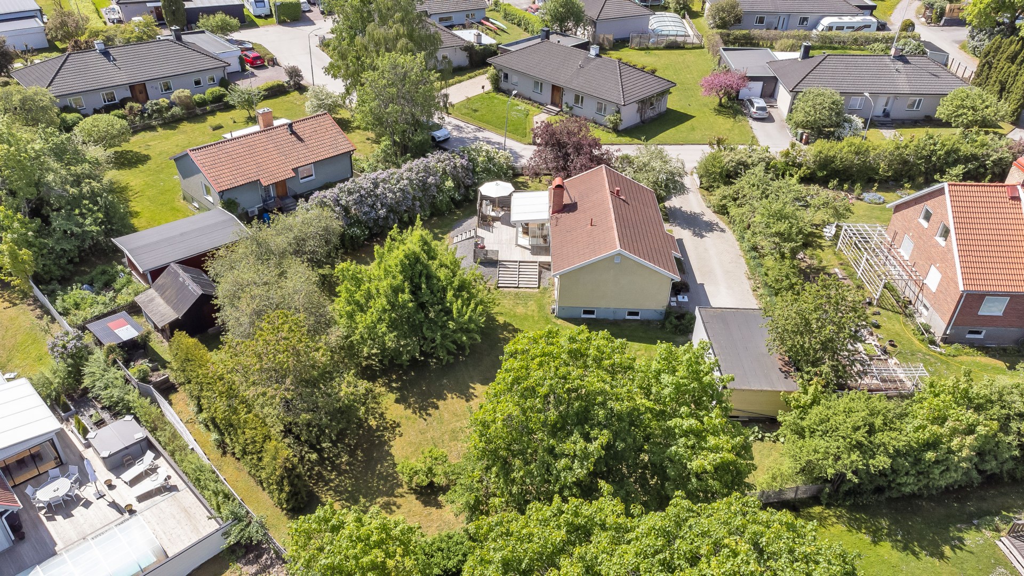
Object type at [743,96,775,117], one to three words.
car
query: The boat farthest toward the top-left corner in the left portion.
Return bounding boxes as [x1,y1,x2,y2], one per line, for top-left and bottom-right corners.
[105,9,121,22]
